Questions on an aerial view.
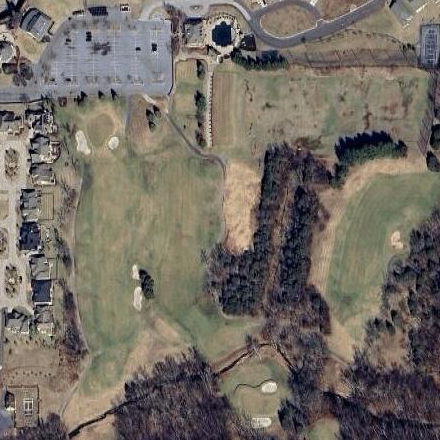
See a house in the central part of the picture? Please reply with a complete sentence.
No, in the central part of the picture there is no house.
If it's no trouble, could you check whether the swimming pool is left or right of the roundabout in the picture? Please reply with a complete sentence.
The swimming pool is to the left of the roundabout.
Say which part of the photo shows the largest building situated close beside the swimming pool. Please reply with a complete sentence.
You can find the largest building situated close beside the swimming pool in the top area of the picture.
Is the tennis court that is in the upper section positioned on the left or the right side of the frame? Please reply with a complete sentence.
You can find the tennis court that is in the upper section on the right side of the picture.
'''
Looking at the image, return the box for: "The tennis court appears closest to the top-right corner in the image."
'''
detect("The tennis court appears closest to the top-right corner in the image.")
[420,24,440,66]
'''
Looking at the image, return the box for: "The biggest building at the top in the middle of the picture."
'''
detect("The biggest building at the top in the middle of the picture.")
[184,22,204,48]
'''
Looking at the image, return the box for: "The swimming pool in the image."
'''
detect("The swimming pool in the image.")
[204,12,243,57]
